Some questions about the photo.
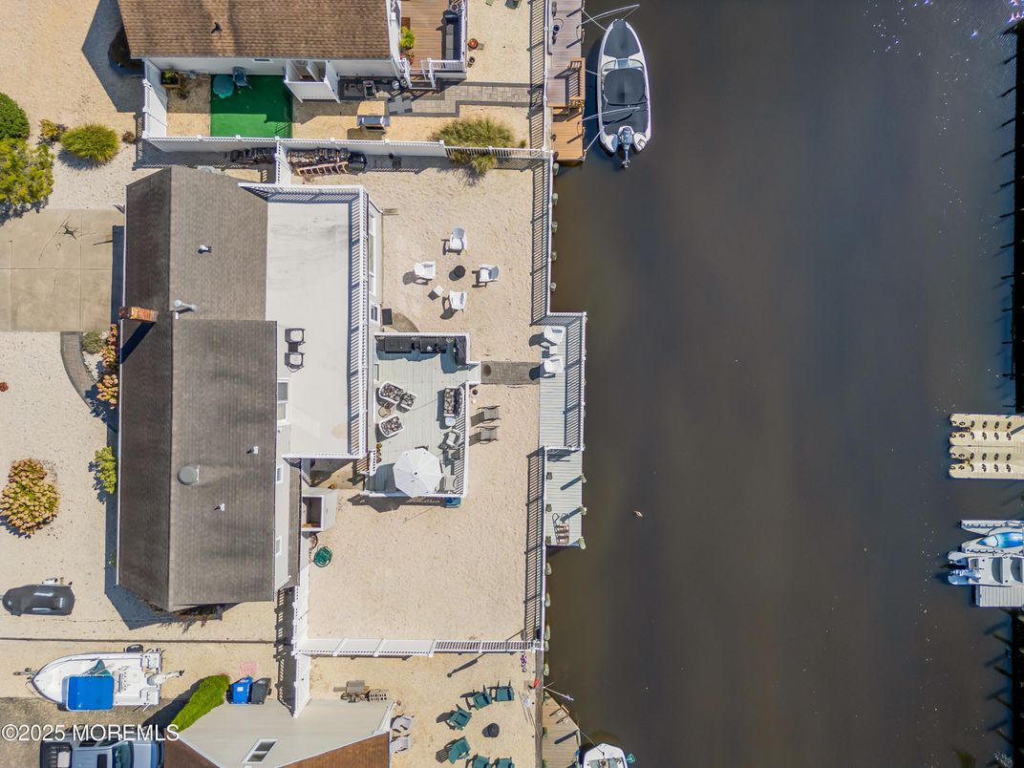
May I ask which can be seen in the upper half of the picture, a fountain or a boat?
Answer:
boat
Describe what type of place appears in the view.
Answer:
residential area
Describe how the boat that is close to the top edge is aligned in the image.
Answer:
up and down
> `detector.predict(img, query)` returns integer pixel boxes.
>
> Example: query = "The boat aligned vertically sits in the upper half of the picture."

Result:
[596,16,650,163]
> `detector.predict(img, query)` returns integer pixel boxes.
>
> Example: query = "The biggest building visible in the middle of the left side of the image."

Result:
[116,167,383,610]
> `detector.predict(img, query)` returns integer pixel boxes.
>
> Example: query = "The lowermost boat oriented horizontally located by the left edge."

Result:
[29,651,177,715]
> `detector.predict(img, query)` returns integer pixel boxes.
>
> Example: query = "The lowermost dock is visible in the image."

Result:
[542,690,579,768]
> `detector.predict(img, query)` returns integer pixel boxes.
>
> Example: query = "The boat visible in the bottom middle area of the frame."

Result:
[585,740,630,768]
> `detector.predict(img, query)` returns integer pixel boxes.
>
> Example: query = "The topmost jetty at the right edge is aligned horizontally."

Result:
[945,414,1024,445]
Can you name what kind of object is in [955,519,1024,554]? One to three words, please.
pier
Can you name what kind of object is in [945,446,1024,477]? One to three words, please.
pier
